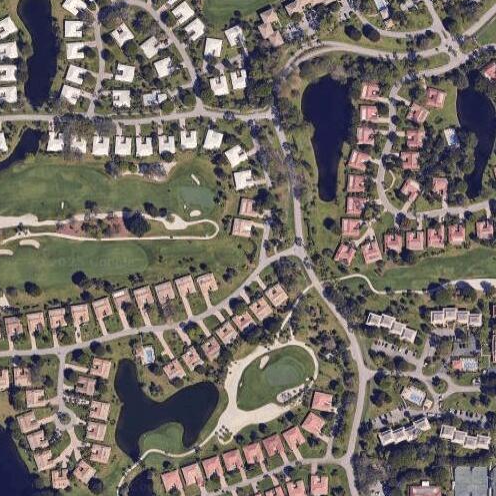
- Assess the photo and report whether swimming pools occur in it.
Yes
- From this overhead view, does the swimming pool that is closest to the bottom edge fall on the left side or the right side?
right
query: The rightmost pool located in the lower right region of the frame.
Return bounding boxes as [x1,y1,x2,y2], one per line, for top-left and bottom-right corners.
[464,357,478,371]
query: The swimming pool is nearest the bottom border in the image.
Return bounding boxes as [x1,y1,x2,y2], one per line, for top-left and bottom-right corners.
[402,385,426,406]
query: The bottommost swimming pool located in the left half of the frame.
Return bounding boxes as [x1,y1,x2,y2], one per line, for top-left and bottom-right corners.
[143,346,155,363]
